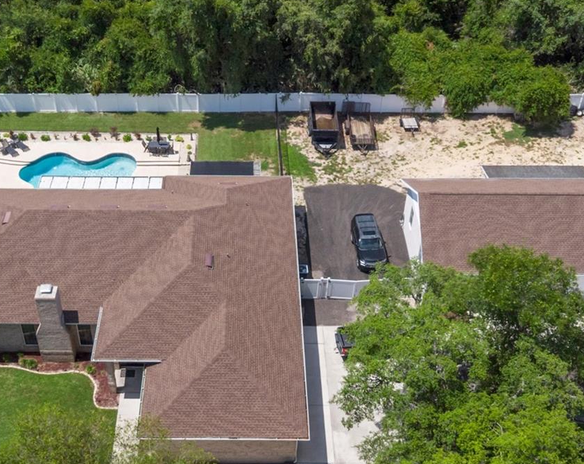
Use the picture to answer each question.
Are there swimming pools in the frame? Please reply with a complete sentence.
Yes, looking at the shot, I can spot a swimming pool.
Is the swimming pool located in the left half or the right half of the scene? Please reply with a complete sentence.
You can find the swimming pool on the left side of the picture.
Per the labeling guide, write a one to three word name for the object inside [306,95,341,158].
trailer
